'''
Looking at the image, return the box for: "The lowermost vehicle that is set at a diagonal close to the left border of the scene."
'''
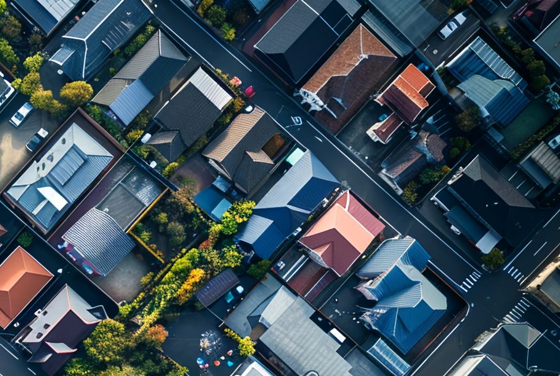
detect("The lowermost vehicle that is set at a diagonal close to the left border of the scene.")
[25,125,49,153]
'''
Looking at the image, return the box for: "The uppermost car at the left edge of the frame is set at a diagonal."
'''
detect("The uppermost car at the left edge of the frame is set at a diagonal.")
[8,101,33,129]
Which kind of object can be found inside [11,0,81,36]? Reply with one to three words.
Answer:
house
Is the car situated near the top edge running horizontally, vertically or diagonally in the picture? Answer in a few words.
diagonally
